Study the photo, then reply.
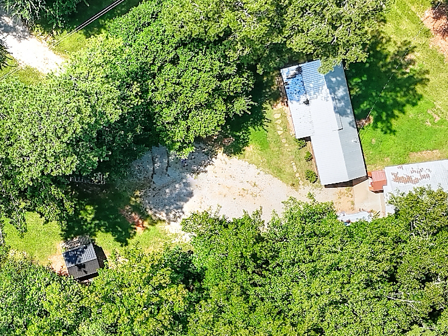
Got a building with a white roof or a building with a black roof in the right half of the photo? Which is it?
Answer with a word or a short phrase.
building with a white roof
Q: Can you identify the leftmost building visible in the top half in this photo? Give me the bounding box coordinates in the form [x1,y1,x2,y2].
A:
[277,55,368,185]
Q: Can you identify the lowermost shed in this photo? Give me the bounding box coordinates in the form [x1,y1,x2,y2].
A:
[63,243,101,280]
